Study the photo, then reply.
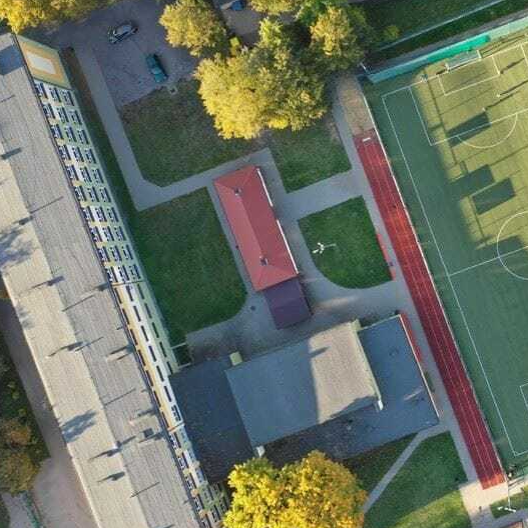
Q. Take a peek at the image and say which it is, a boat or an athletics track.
athletics track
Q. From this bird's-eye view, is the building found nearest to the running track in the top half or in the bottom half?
bottom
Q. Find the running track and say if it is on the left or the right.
right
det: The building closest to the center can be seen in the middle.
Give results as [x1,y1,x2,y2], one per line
[213,165,314,329]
